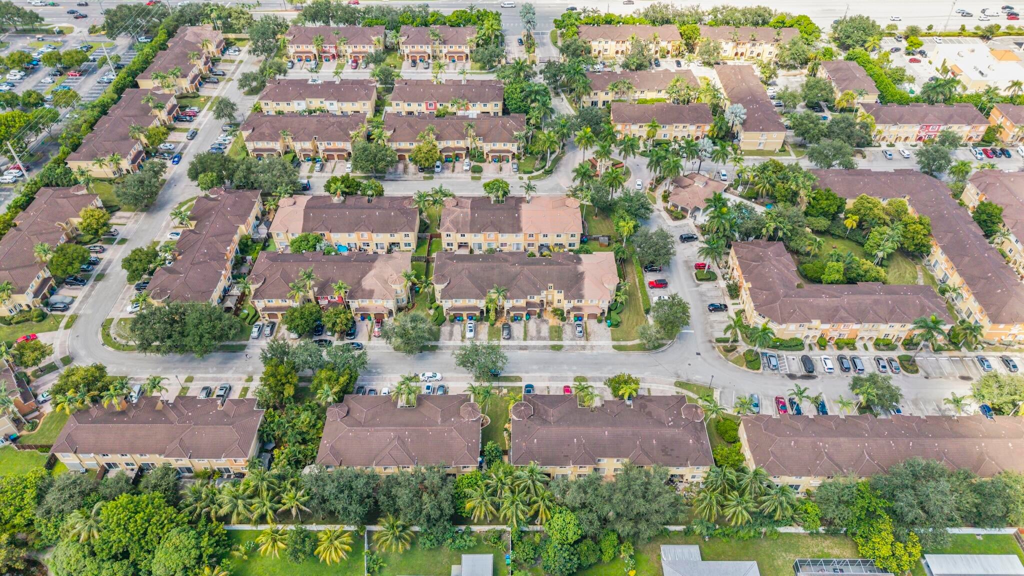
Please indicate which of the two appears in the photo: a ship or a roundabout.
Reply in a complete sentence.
The image shows a roundabout.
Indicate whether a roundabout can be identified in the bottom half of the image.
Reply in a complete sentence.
No, no roundabout can be made out in the bottom half of the image.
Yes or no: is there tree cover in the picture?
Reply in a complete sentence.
Yes, the picture does contain tree cover.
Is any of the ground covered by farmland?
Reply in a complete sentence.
No, farmland can't be seen anywhere here.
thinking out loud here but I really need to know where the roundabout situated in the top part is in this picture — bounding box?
[559,145,648,196]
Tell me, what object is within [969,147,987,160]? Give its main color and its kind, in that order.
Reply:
white vehicle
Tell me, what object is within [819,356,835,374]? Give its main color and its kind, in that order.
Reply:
white car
